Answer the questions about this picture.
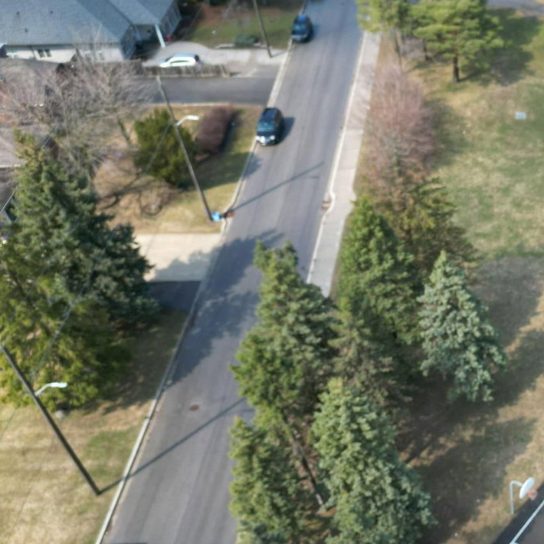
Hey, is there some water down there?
No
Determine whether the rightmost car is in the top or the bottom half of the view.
top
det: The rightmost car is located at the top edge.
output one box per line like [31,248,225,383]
[290,18,315,42]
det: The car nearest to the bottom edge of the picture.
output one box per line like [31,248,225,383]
[256,113,286,145]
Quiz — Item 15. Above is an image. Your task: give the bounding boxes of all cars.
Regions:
[290,18,315,42]
[256,113,286,145]
[158,54,198,72]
